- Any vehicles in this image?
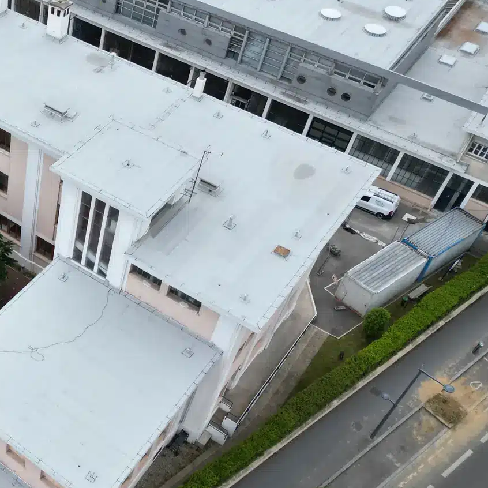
Yes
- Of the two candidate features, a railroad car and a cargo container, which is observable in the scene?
cargo container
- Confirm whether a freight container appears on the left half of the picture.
No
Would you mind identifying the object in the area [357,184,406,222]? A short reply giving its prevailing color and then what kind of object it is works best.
white van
